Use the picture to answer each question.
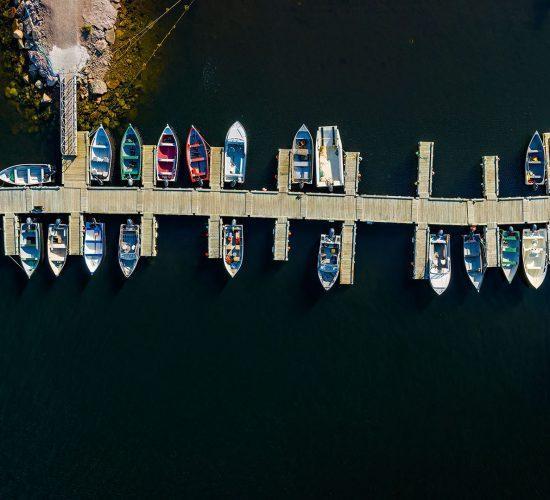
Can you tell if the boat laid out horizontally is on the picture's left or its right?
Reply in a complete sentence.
The boat laid out horizontally is on the left side of the image.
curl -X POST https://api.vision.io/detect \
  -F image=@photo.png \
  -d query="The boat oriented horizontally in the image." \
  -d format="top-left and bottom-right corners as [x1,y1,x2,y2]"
[0,164,60,186]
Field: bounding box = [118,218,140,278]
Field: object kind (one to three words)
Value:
boat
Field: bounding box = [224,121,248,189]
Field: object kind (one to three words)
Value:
boat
